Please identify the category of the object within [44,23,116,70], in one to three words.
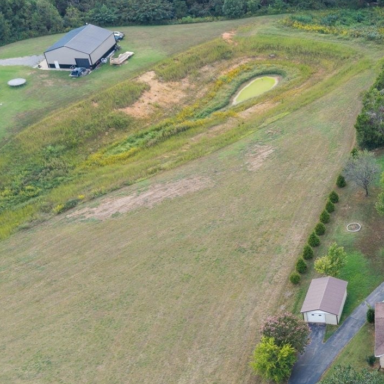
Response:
building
